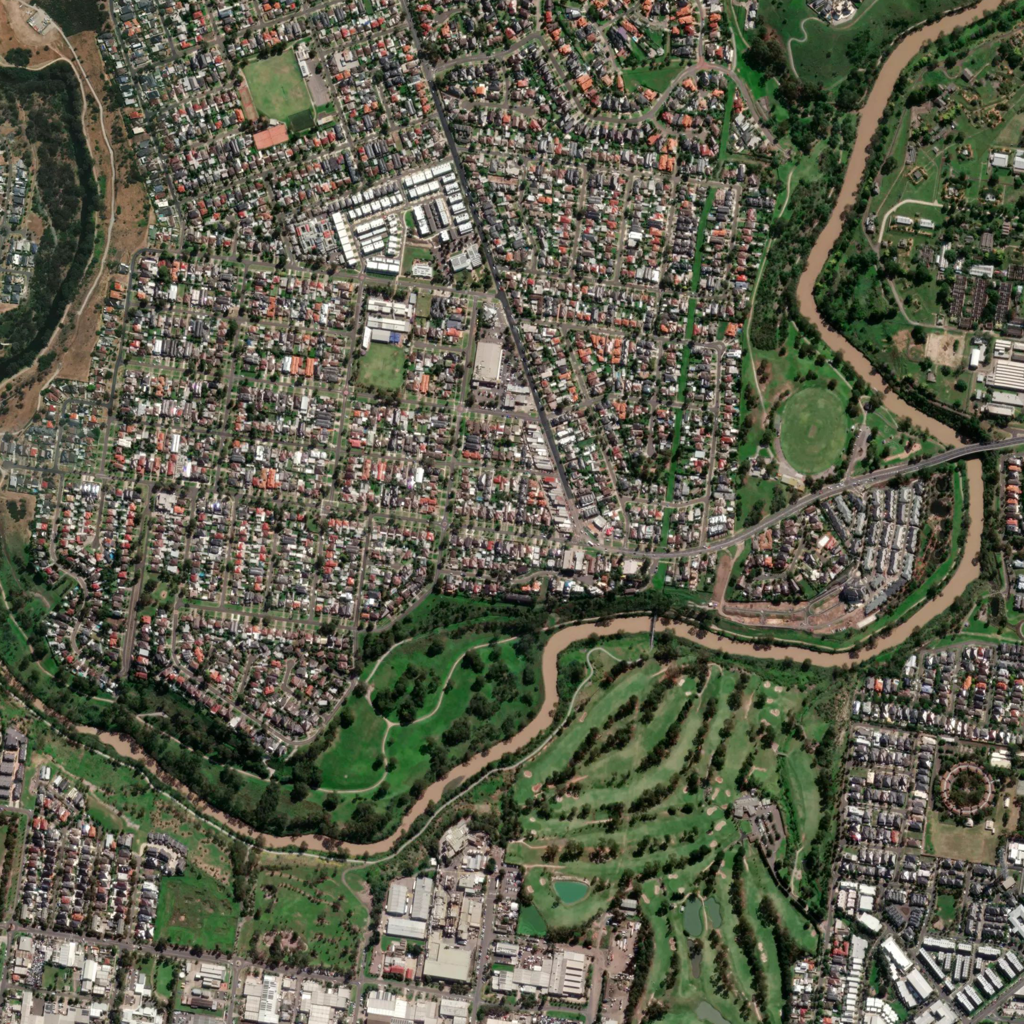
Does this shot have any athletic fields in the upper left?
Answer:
Yes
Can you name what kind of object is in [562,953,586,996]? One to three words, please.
building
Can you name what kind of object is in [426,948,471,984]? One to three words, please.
building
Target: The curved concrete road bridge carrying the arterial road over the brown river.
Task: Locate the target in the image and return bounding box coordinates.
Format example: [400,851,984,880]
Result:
[913,435,1024,472]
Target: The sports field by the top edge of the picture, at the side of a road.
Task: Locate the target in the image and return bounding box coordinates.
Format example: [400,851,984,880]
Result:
[244,49,314,121]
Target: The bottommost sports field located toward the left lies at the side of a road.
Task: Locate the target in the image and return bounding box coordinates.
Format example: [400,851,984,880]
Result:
[357,344,405,389]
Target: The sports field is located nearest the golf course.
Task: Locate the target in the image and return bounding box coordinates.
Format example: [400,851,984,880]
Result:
[779,387,849,476]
